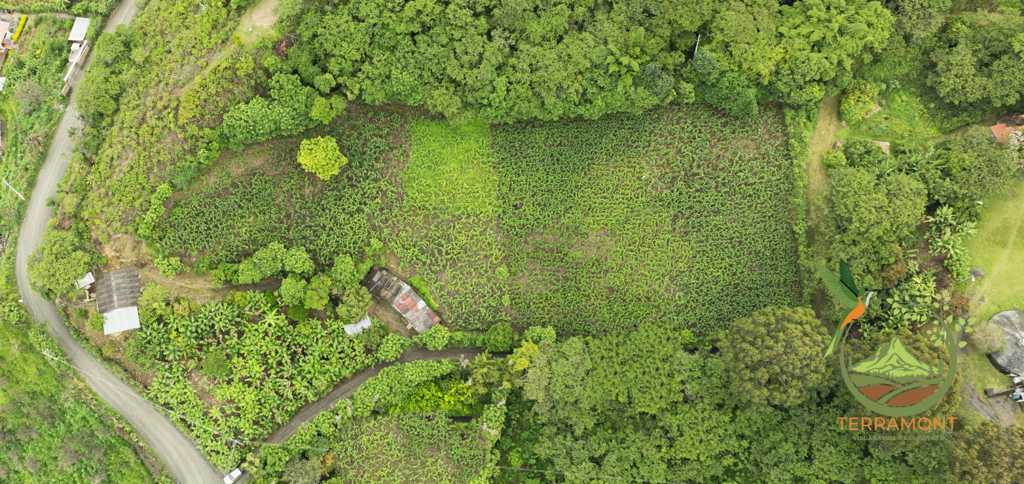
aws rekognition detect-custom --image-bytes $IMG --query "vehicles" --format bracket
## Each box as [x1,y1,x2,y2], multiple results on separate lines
[223,462,249,484]
[68,42,82,65]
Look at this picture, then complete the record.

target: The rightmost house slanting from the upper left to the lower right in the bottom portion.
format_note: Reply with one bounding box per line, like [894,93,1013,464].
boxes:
[363,266,441,336]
